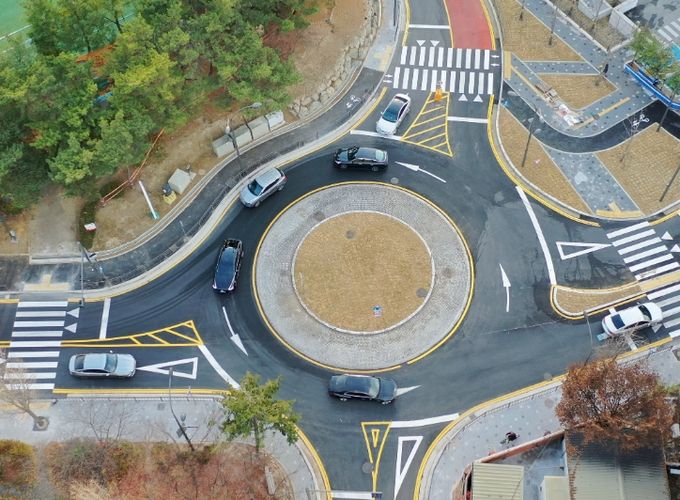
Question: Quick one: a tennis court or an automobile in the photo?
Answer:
automobile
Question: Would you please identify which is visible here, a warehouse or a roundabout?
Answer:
roundabout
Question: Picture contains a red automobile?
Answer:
No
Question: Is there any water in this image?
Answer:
No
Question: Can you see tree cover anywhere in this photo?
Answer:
Yes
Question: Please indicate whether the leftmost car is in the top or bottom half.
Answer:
bottom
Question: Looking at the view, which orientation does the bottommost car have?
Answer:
from left to right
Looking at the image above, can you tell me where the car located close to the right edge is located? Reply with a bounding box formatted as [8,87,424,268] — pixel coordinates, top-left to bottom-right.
[600,303,664,339]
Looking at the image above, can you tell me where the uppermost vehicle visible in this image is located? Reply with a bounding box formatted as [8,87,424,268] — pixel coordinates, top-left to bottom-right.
[378,94,410,136]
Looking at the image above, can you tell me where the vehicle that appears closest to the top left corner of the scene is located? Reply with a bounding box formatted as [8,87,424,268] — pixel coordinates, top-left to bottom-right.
[239,171,289,209]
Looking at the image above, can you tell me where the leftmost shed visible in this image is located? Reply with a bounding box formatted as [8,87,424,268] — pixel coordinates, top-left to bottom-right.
[466,463,525,500]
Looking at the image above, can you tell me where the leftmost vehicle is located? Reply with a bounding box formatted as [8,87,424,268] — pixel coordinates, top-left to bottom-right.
[67,350,137,381]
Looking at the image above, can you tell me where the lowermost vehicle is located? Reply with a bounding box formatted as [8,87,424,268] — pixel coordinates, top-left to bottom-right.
[328,373,398,406]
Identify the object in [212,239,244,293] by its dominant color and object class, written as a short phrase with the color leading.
blue car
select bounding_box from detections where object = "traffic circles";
[222,162,512,396]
